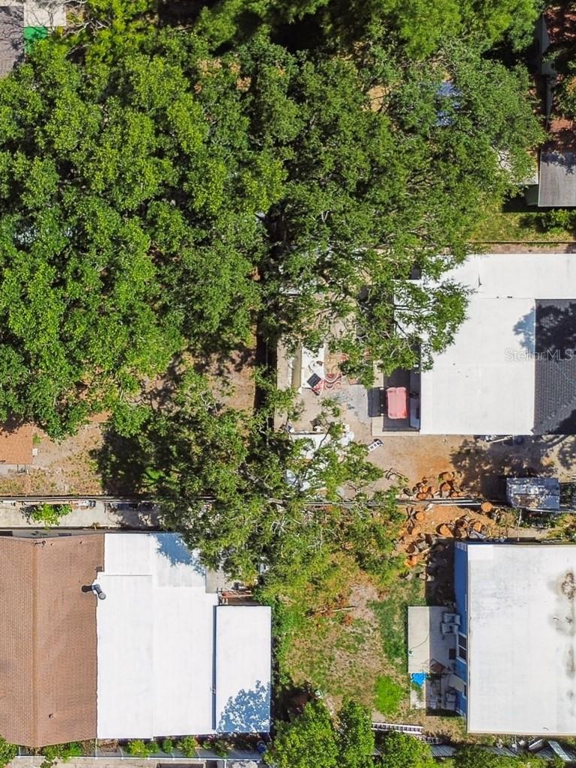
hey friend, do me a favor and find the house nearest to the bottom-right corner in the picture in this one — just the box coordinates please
[443,537,576,738]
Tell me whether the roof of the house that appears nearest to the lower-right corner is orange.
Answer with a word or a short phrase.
No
